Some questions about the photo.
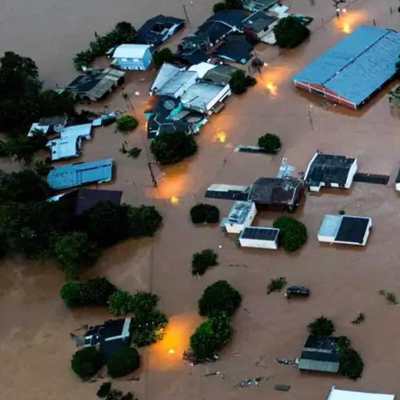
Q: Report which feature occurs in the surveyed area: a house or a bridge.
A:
house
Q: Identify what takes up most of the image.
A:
water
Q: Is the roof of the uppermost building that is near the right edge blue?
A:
Yes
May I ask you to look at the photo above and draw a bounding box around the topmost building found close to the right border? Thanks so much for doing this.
[292,26,400,113]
